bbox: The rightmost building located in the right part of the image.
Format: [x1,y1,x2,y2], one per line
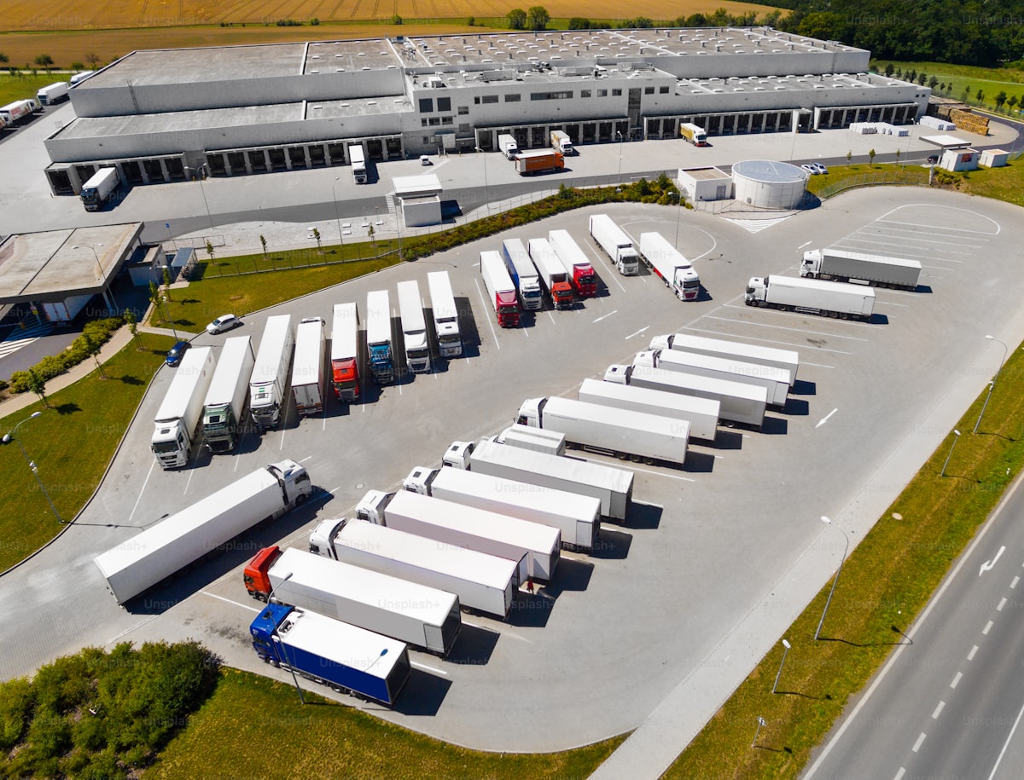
[979,149,1009,166]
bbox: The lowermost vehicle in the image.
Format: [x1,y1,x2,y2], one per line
[241,605,412,709]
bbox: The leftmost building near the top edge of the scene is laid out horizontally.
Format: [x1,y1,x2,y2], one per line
[41,23,932,196]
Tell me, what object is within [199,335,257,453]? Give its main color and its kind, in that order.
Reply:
white truck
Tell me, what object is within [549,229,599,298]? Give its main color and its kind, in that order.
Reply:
white truck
